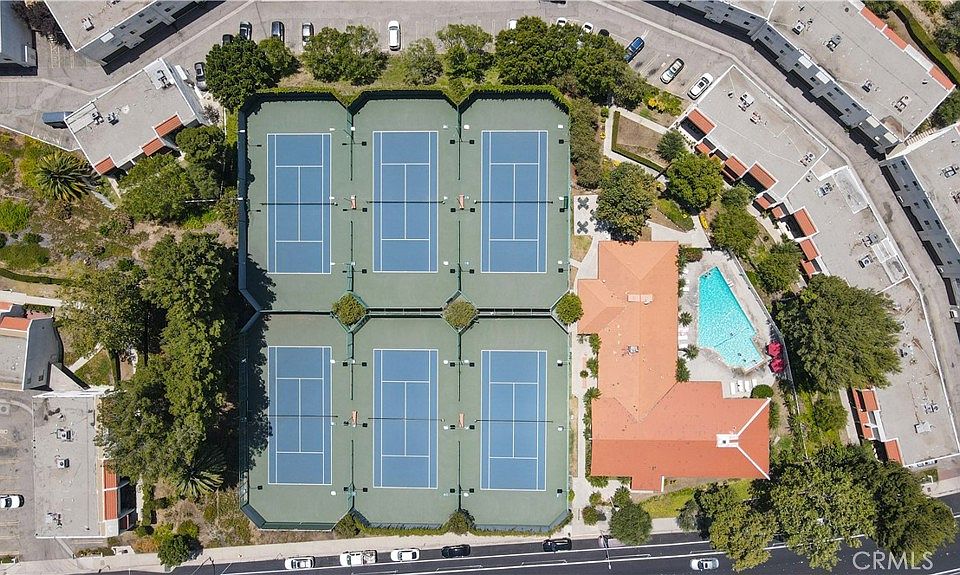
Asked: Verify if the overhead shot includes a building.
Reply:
Yes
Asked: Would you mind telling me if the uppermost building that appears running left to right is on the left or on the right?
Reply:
left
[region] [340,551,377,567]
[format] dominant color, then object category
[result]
white vehicle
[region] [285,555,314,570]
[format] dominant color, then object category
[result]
white car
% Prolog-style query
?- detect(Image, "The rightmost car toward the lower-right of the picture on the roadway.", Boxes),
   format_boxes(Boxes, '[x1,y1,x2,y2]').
[690,556,718,571]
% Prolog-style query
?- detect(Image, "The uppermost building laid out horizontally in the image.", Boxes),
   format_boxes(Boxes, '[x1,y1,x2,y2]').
[44,0,205,67]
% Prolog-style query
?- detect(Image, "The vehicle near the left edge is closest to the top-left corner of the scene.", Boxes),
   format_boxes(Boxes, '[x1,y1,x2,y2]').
[40,111,70,124]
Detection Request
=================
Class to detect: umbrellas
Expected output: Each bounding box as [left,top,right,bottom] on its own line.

[766,340,782,356]
[769,356,785,372]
